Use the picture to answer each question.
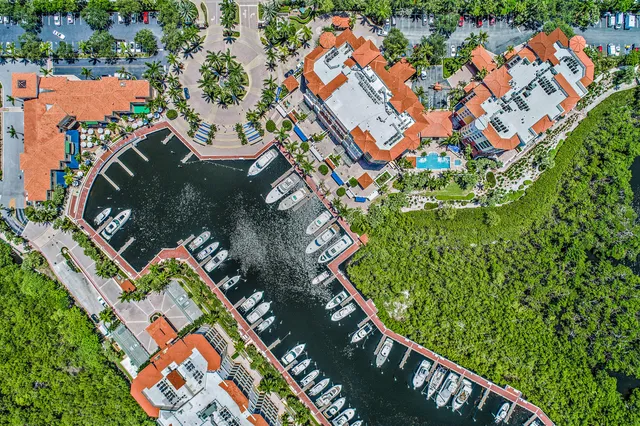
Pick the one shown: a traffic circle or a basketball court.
traffic circle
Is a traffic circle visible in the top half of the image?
Yes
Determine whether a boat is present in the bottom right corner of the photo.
Yes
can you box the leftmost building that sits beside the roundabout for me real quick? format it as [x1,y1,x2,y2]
[12,73,152,201]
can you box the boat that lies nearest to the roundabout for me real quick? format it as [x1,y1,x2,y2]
[247,148,279,176]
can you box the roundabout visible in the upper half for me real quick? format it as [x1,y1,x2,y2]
[178,35,270,127]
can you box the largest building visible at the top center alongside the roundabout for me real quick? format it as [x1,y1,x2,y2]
[297,29,429,164]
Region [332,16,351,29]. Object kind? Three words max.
gazebo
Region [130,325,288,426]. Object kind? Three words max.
building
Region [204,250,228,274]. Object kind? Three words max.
boat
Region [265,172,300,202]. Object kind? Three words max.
boat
